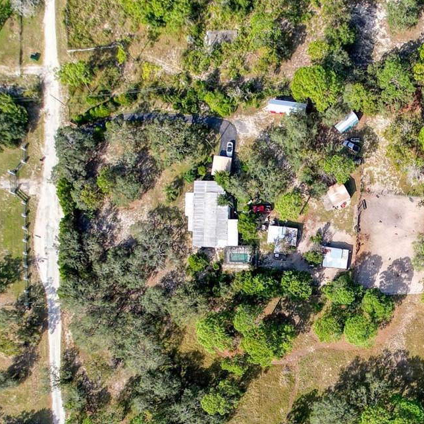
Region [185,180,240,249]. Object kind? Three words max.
house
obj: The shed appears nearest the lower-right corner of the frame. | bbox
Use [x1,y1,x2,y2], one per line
[323,247,349,270]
